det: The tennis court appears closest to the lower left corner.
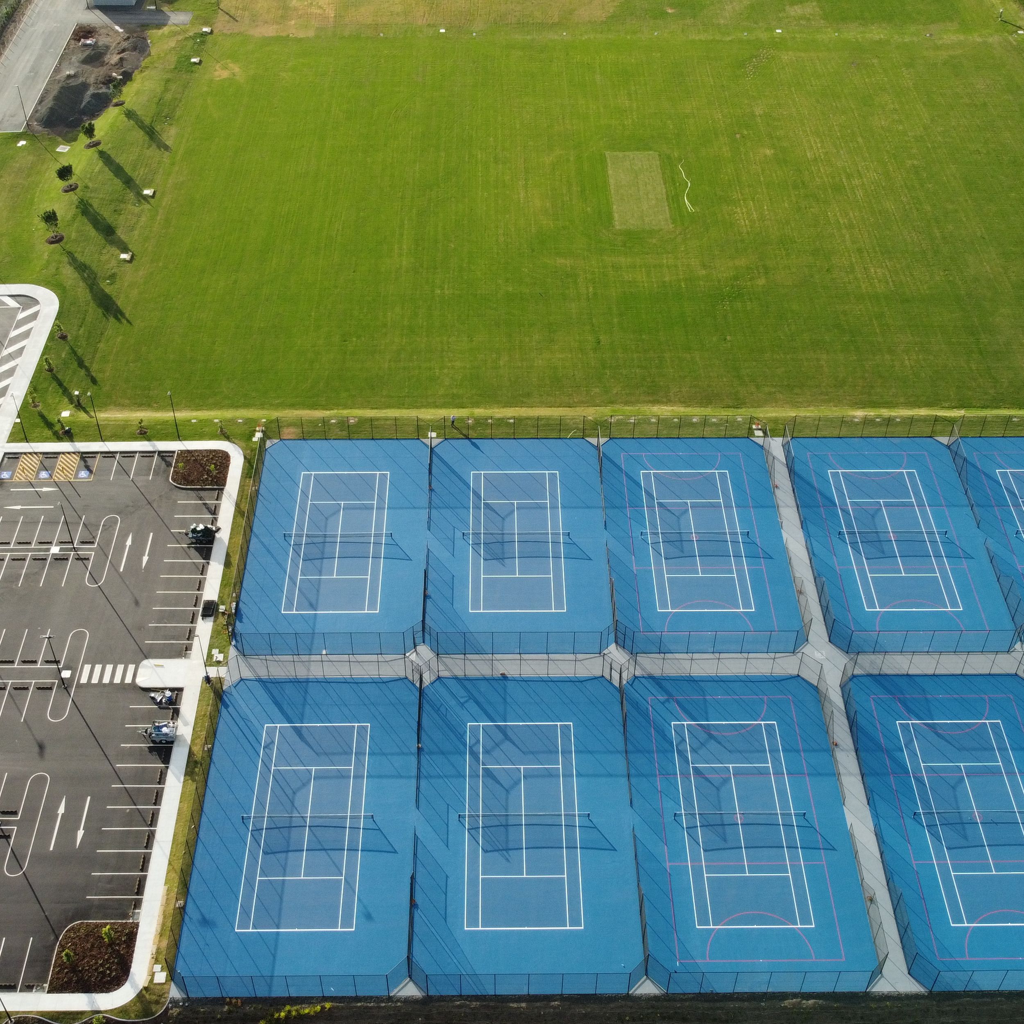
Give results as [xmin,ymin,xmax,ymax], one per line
[172,677,418,997]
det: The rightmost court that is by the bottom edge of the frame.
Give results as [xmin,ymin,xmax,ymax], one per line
[841,674,1024,990]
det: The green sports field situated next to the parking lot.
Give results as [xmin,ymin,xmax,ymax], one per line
[114,40,1024,401]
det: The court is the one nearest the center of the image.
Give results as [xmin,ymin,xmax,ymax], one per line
[423,438,615,654]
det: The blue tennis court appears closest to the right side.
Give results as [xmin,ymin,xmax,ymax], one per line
[948,437,1024,642]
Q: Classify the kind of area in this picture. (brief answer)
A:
sports ground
